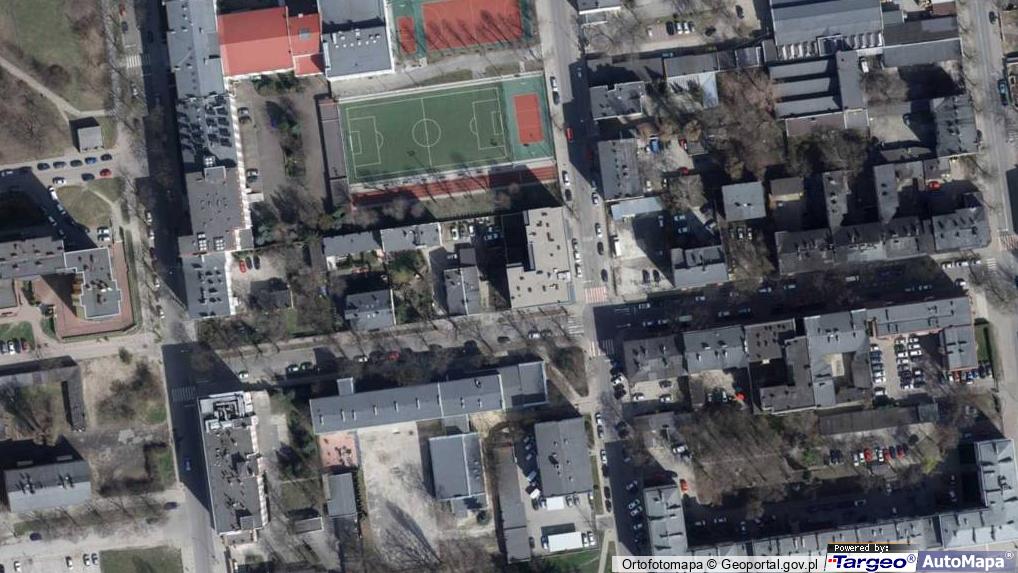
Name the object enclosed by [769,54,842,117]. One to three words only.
shed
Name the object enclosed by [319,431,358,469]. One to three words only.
playground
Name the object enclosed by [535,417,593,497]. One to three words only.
building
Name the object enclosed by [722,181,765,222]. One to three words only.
house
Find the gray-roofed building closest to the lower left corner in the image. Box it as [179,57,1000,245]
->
[5,461,92,511]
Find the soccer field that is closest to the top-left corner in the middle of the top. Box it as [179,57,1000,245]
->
[340,81,517,185]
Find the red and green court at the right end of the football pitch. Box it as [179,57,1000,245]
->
[502,75,550,161]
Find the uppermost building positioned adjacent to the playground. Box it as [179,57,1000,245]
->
[310,362,549,436]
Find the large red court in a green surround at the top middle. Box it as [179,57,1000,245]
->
[390,0,534,60]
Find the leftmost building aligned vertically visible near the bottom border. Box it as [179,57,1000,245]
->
[198,391,270,546]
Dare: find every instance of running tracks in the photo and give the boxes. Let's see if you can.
[349,157,554,207]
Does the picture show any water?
No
